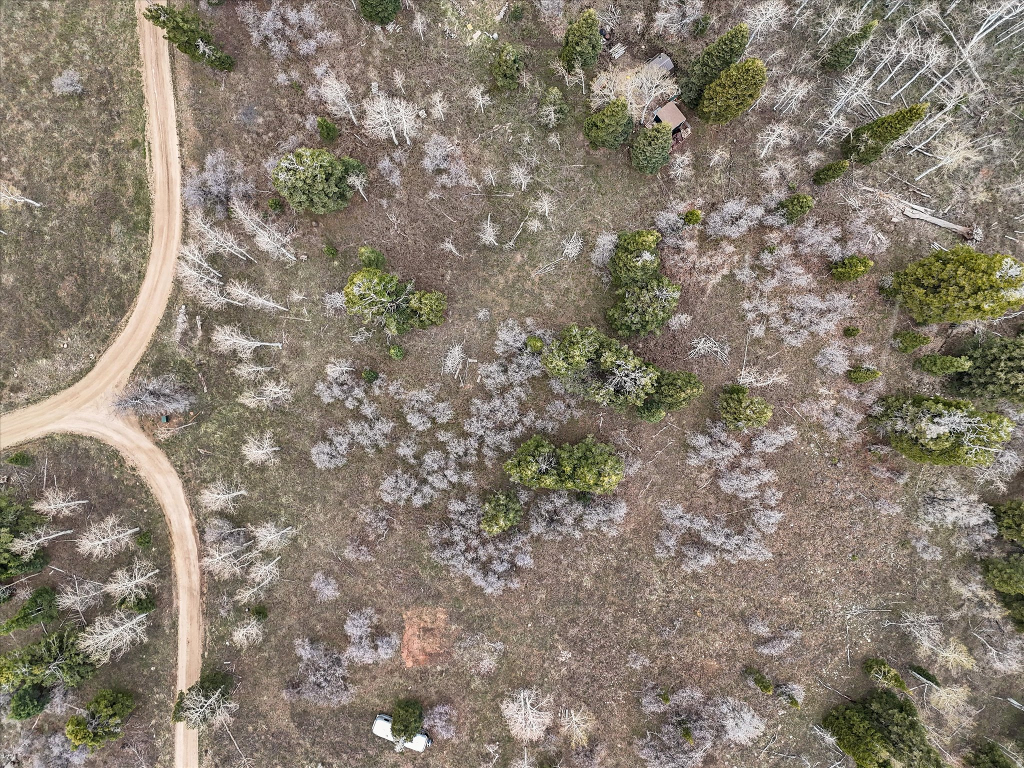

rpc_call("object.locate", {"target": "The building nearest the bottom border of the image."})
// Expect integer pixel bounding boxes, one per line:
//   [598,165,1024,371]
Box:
[655,102,686,133]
